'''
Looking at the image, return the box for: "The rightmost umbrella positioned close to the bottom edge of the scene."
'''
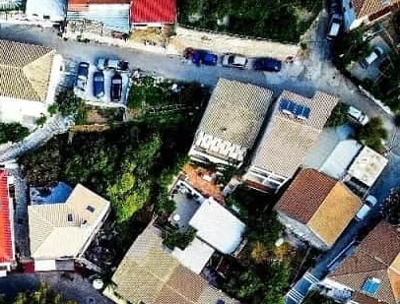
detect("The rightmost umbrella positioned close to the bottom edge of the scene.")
[91,276,105,292]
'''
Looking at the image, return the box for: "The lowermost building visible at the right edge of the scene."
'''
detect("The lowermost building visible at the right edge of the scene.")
[316,221,400,304]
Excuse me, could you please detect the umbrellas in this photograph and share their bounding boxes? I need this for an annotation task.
[171,213,182,224]
[91,276,105,292]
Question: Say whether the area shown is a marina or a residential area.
residential area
